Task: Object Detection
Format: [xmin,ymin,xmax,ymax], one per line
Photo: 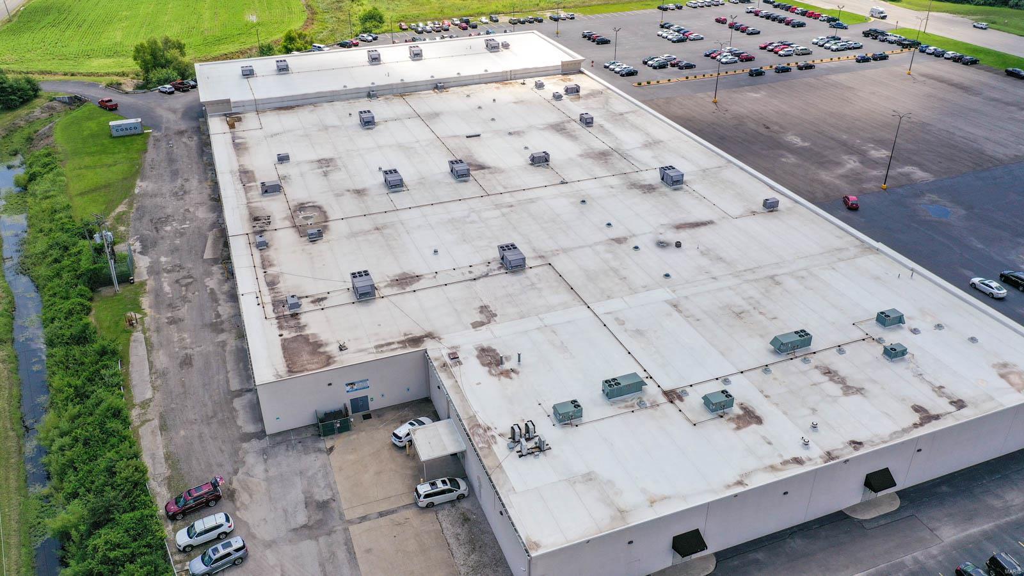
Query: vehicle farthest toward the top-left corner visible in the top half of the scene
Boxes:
[97,96,119,109]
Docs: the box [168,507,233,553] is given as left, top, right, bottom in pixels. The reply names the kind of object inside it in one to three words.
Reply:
car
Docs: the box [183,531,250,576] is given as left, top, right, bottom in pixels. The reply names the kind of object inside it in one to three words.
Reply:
car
